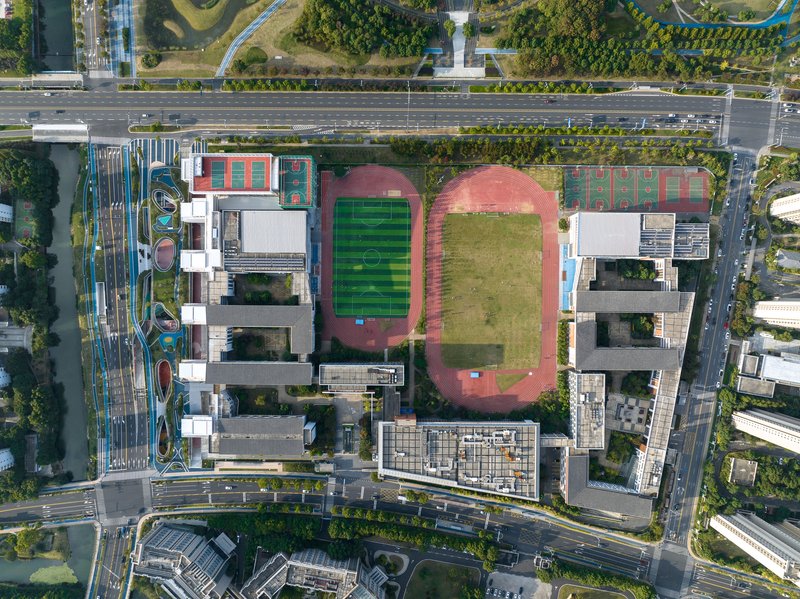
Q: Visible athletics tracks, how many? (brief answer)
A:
two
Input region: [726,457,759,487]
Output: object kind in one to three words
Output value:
building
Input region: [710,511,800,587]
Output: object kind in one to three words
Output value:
building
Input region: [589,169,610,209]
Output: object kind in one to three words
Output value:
basketball court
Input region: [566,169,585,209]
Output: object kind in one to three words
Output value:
basketball court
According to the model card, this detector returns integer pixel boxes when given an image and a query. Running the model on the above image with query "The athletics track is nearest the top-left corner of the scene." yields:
[321,166,423,350]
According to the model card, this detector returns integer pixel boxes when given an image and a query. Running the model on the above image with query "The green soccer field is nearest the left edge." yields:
[334,197,411,317]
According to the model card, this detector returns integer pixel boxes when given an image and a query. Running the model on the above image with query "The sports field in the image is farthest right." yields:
[441,213,542,369]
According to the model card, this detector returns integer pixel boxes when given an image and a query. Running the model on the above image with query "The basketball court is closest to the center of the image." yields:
[284,159,306,204]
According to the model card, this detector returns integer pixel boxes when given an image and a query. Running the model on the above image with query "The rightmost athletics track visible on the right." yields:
[426,165,558,413]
